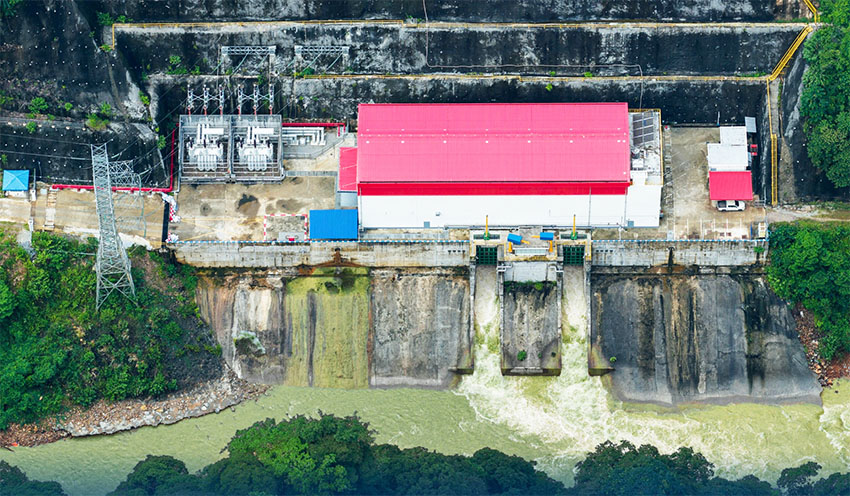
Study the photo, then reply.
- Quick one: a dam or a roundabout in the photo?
dam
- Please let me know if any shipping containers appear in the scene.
No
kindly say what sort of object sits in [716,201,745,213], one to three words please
vehicle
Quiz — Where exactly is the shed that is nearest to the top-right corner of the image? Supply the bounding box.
[706,125,750,171]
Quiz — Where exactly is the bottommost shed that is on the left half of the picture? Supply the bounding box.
[310,209,357,241]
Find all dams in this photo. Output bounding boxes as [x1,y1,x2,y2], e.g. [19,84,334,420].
[173,229,822,406]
